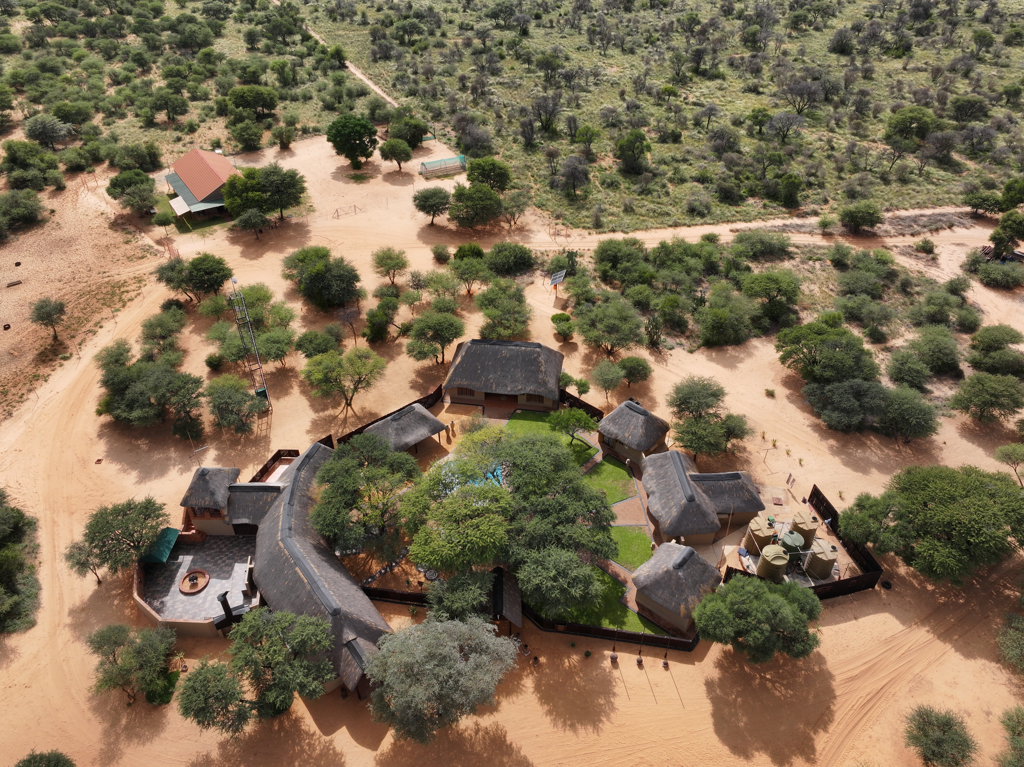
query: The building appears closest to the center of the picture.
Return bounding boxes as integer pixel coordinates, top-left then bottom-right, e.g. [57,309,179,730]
[442,339,568,410]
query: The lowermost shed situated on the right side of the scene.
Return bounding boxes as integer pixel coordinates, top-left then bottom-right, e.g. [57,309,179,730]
[633,542,724,631]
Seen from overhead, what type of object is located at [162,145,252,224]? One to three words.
house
